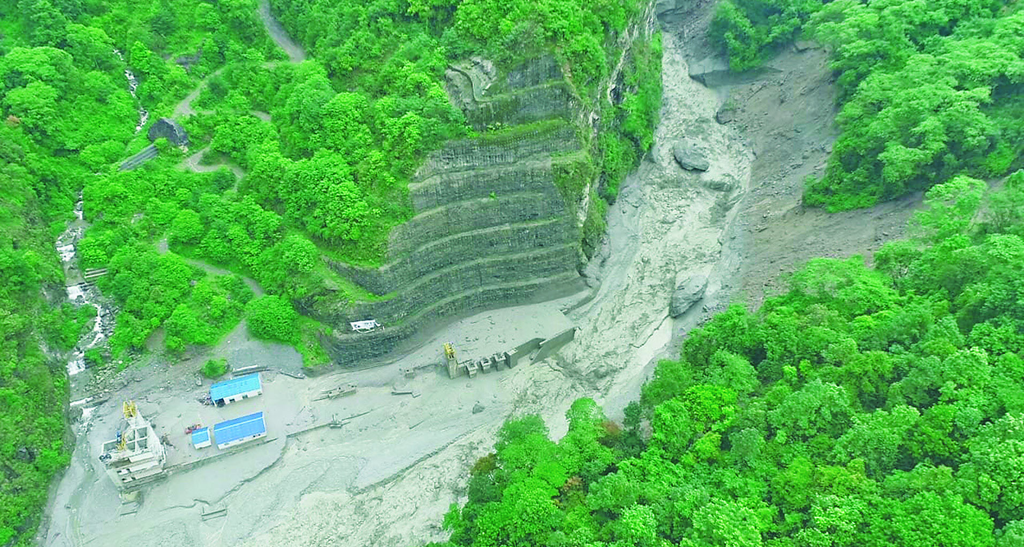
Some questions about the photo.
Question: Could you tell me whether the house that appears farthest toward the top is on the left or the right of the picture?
left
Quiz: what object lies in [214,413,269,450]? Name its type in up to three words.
house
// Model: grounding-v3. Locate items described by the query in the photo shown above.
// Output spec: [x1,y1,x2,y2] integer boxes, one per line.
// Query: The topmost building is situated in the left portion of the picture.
[210,373,263,407]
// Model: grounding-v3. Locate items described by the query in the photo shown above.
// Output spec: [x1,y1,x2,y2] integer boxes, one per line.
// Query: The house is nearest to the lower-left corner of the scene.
[191,426,212,449]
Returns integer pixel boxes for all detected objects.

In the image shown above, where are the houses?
[191,426,212,449]
[214,413,269,450]
[210,373,263,407]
